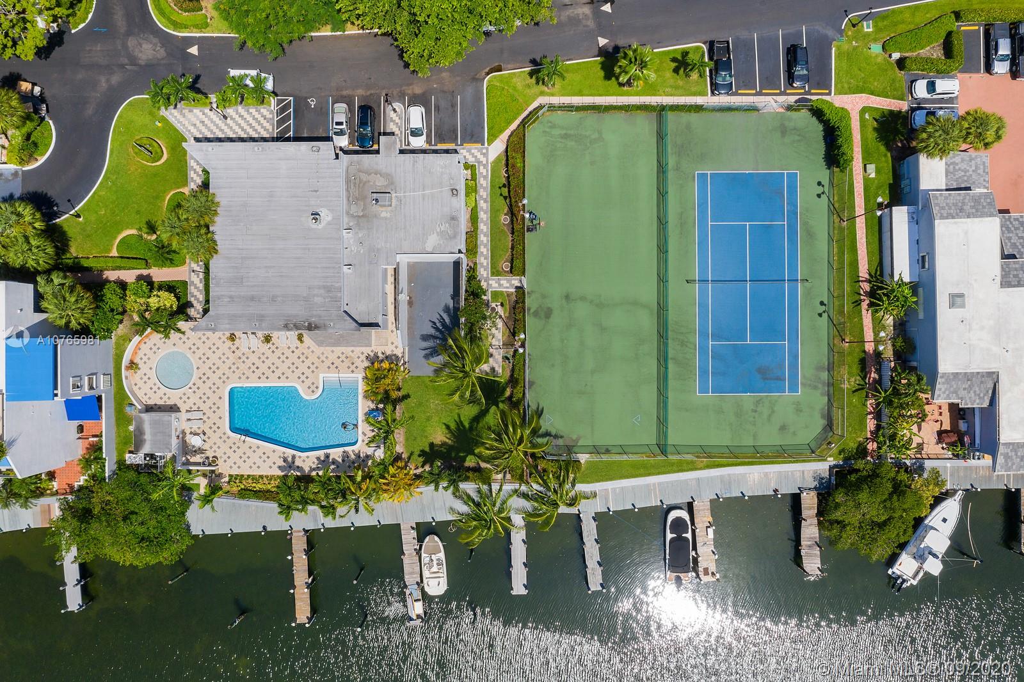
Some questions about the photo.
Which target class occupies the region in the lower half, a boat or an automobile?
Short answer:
boat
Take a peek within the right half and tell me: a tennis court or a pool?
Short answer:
tennis court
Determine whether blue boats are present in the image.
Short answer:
No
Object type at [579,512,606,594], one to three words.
pier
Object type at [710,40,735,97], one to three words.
truck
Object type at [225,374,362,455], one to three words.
swimming pool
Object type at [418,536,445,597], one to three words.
boat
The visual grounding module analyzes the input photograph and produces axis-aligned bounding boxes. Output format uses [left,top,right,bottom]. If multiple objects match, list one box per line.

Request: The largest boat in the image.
[884,492,963,603]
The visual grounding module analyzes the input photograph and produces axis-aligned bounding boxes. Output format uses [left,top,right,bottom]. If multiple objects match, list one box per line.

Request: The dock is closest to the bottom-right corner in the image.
[1003,490,1024,554]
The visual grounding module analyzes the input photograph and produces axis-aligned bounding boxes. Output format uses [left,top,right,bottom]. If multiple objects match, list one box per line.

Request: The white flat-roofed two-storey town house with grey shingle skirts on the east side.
[877,153,1024,476]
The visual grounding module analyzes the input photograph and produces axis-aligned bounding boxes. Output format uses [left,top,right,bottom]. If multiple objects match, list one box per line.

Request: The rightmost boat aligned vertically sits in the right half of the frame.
[667,510,693,590]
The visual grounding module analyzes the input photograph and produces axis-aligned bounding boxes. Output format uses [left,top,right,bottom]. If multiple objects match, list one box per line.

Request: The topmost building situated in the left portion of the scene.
[183,137,466,331]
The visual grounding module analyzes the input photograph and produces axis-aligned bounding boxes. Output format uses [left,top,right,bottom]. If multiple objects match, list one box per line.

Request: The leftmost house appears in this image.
[0,281,113,478]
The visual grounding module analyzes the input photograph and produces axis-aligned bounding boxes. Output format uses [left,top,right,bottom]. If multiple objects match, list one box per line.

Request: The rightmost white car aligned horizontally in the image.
[911,76,961,100]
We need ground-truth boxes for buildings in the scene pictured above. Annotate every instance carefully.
[133,412,186,455]
[183,137,466,331]
[0,281,113,478]
[877,153,1024,476]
